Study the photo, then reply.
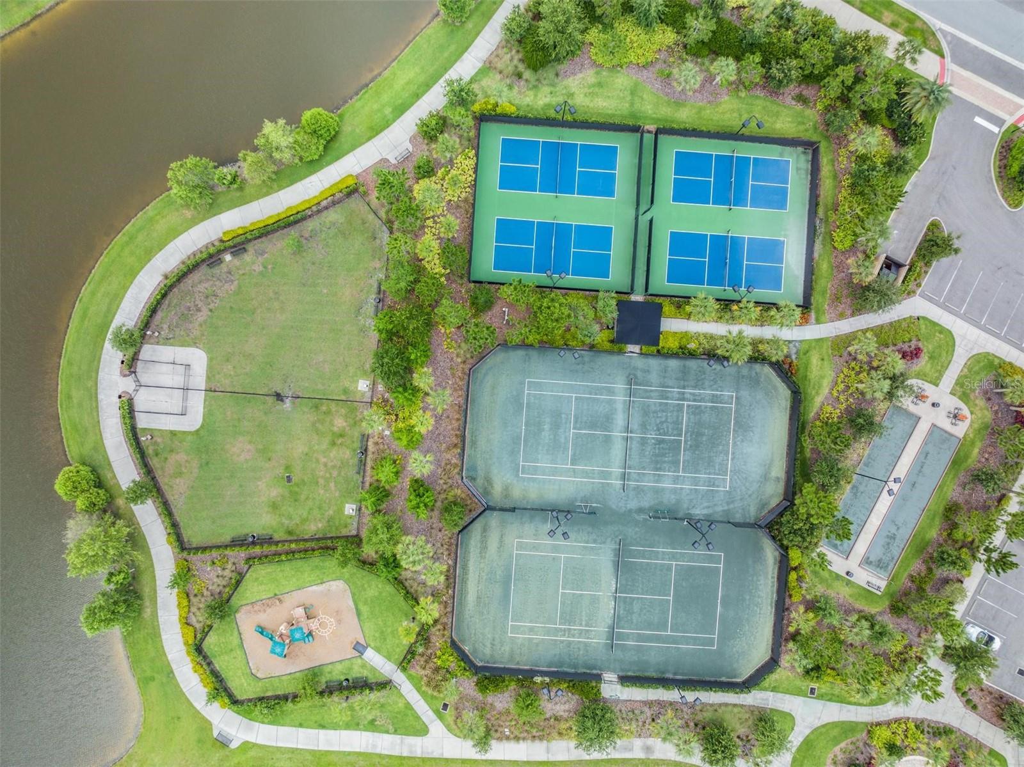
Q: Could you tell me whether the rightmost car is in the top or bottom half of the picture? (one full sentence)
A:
Seen from above, the rightmost car lies in the bottom half of the view.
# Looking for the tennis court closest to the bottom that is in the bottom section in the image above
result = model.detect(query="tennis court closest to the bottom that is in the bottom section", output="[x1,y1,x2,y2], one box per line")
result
[453,507,780,682]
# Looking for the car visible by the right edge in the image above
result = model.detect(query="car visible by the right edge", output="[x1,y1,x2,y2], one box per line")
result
[962,622,1003,652]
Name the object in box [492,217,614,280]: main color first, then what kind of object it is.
blue sports court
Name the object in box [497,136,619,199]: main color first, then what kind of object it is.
blue sports court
